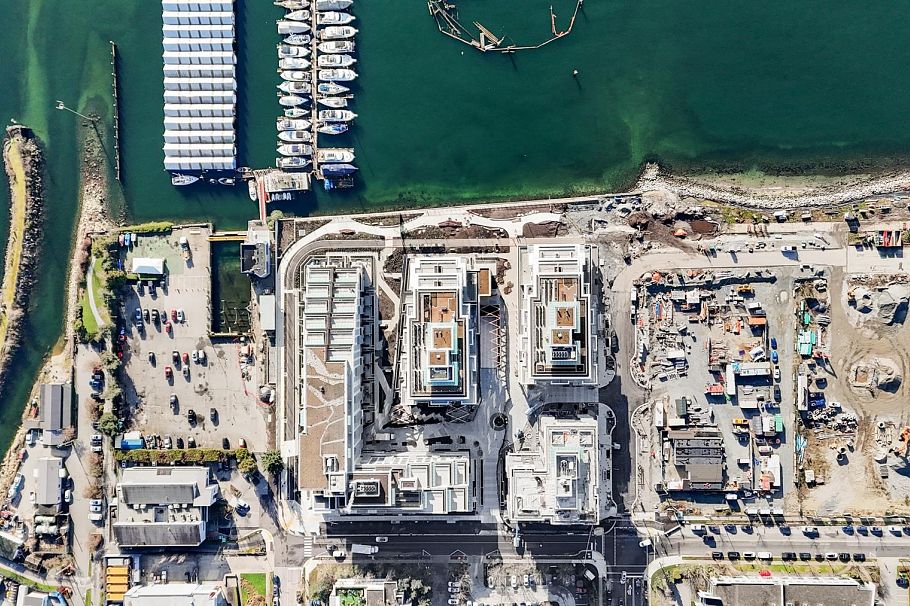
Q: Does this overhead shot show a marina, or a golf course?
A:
marina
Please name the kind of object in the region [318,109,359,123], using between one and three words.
boat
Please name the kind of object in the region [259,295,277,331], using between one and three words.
shed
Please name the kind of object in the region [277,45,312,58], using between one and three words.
boat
